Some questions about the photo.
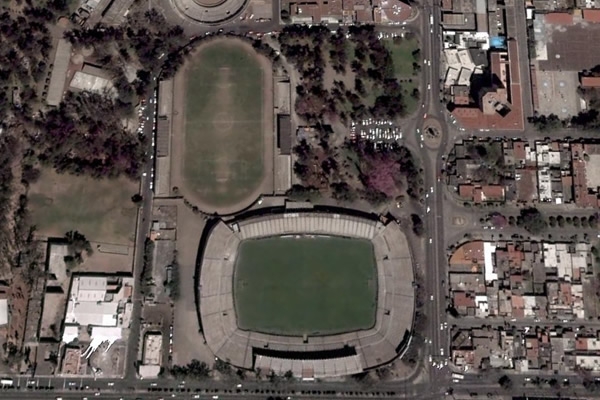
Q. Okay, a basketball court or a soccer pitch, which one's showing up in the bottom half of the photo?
soccer pitch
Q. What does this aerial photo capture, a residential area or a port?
residential area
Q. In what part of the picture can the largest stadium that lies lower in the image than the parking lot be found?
bottom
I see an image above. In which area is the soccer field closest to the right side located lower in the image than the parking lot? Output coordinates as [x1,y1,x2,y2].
[234,237,376,335]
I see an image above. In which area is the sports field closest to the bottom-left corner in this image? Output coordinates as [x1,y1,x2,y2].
[30,170,138,246]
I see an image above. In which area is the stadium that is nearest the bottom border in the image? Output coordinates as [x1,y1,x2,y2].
[198,202,417,380]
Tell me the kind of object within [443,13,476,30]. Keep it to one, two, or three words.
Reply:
house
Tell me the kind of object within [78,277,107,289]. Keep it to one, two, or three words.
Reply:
building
